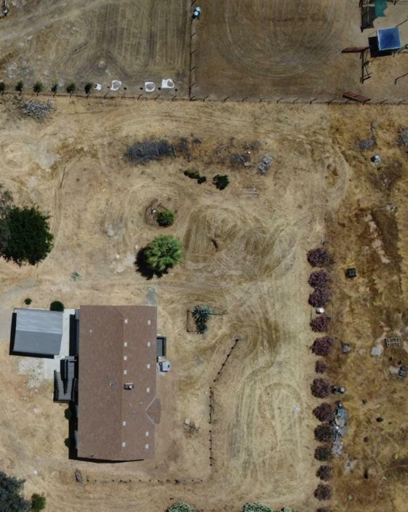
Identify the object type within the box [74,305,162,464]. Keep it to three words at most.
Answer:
house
